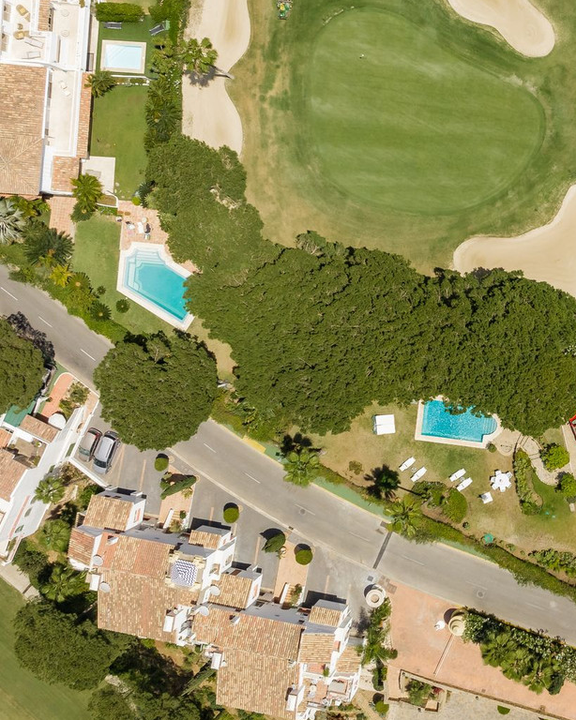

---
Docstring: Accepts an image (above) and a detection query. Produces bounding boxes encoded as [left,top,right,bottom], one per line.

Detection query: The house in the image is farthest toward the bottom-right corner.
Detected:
[297,594,367,720]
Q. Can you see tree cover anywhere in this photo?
Yes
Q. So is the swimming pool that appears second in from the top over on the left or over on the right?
left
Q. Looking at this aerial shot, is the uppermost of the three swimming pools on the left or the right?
left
